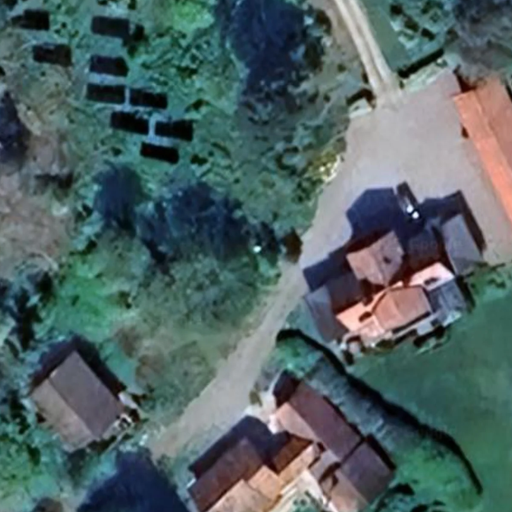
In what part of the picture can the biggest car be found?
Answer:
right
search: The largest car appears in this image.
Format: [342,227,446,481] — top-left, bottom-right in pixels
[395,182,424,222]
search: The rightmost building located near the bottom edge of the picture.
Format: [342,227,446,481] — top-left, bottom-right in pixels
[188,379,393,512]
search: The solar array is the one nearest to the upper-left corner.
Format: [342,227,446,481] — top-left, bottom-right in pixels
[24,9,53,29]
